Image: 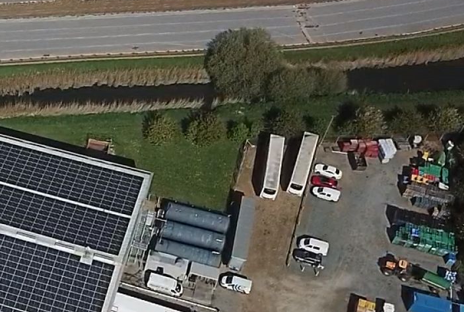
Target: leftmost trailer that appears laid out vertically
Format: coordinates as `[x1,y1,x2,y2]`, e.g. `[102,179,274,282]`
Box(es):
[228,193,258,267]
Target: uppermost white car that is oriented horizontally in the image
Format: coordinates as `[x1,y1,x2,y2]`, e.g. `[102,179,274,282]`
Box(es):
[313,164,341,180]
